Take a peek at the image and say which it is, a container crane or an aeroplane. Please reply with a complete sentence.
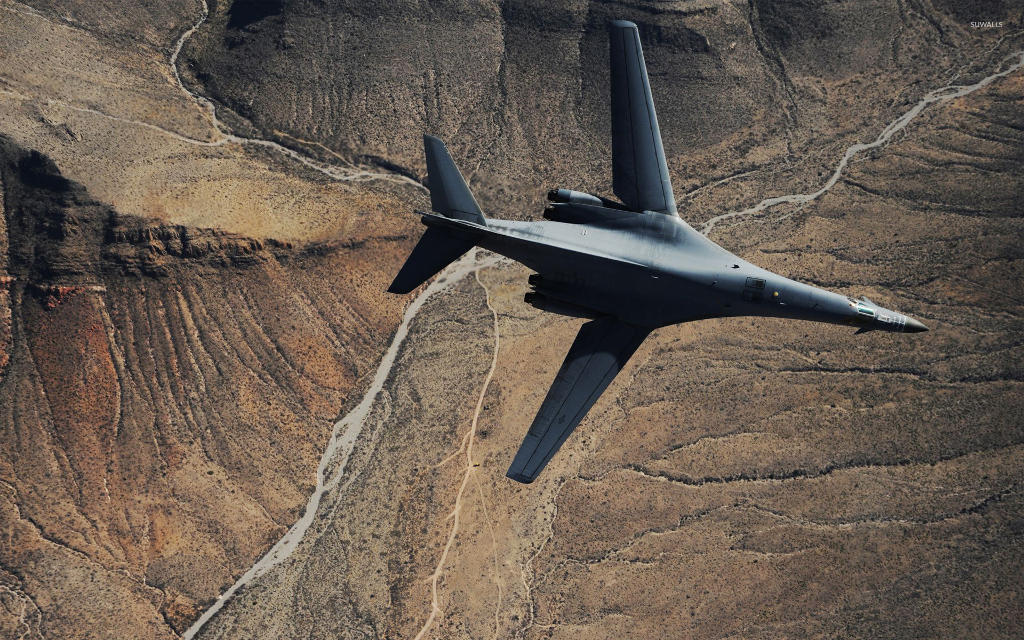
Visible in the photo is an aeroplane.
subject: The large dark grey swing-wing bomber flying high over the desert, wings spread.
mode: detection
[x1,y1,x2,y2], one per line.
[390,24,929,482]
